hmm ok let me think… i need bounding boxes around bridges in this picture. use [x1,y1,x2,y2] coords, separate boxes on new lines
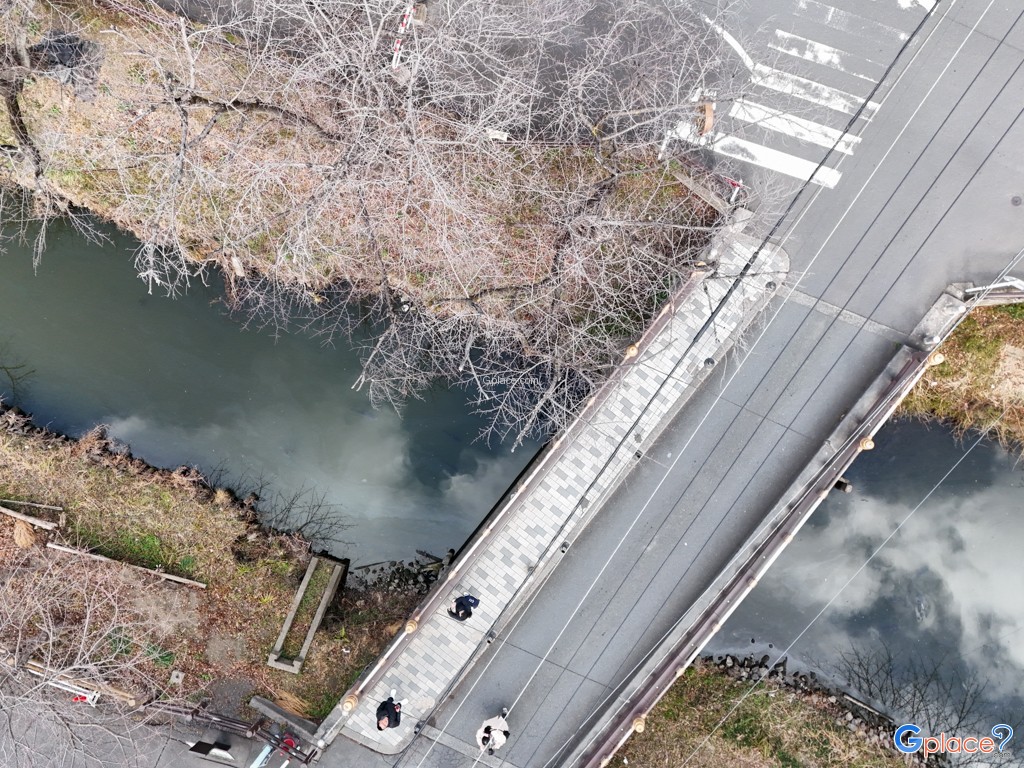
[327,236,984,768]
